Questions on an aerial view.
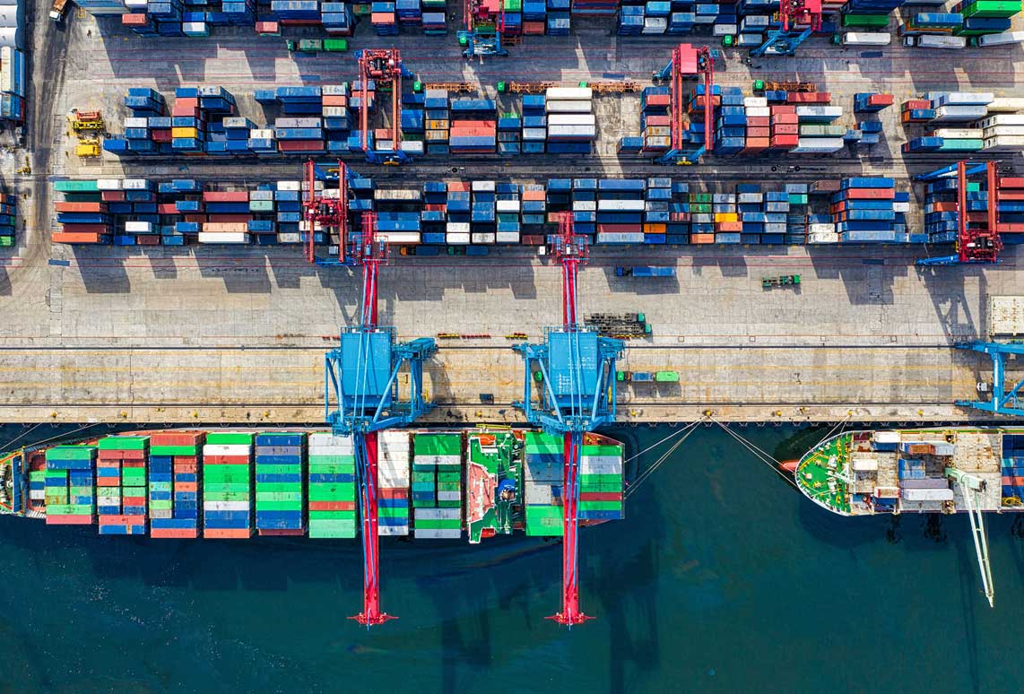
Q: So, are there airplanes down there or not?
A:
No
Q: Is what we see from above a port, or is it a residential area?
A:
port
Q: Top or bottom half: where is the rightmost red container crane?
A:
top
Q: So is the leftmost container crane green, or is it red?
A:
red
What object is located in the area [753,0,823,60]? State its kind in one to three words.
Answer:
container crane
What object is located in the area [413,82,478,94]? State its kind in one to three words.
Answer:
vehicle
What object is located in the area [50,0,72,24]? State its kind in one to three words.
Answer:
truck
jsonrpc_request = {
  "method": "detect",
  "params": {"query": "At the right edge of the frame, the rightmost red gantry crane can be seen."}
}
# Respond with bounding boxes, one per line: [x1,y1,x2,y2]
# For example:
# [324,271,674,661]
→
[915,161,1002,270]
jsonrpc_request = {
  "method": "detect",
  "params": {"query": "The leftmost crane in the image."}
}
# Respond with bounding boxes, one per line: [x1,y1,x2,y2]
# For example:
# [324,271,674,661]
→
[303,161,365,270]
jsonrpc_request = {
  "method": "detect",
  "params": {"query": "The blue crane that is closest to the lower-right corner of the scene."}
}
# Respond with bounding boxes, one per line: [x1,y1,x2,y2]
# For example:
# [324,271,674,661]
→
[954,342,1024,417]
